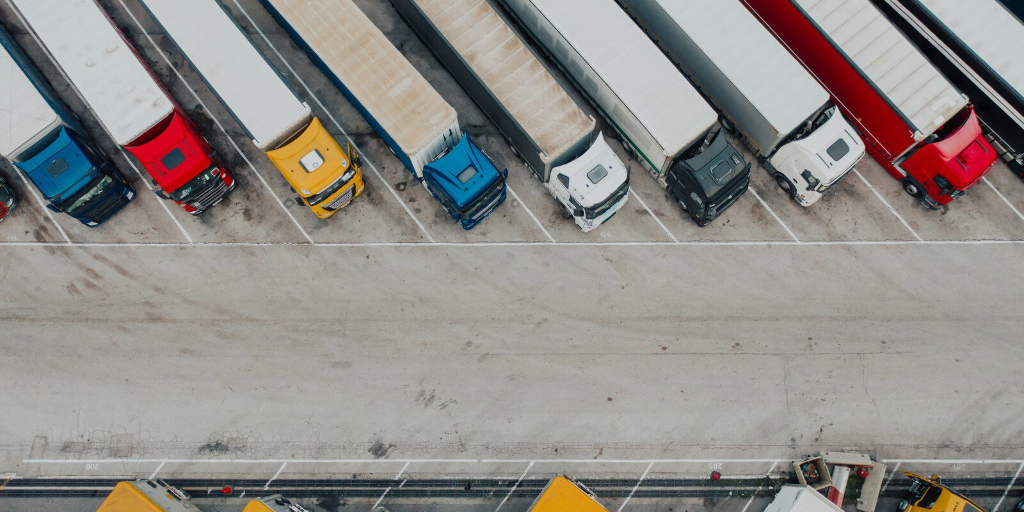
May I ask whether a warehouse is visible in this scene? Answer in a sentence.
No, there is no warehouse in the image.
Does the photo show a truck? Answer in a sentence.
Yes, a truck appears in the view.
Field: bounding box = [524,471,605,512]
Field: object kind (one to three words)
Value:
trailer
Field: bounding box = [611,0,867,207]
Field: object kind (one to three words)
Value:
truck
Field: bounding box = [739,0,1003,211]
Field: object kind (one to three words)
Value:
truck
